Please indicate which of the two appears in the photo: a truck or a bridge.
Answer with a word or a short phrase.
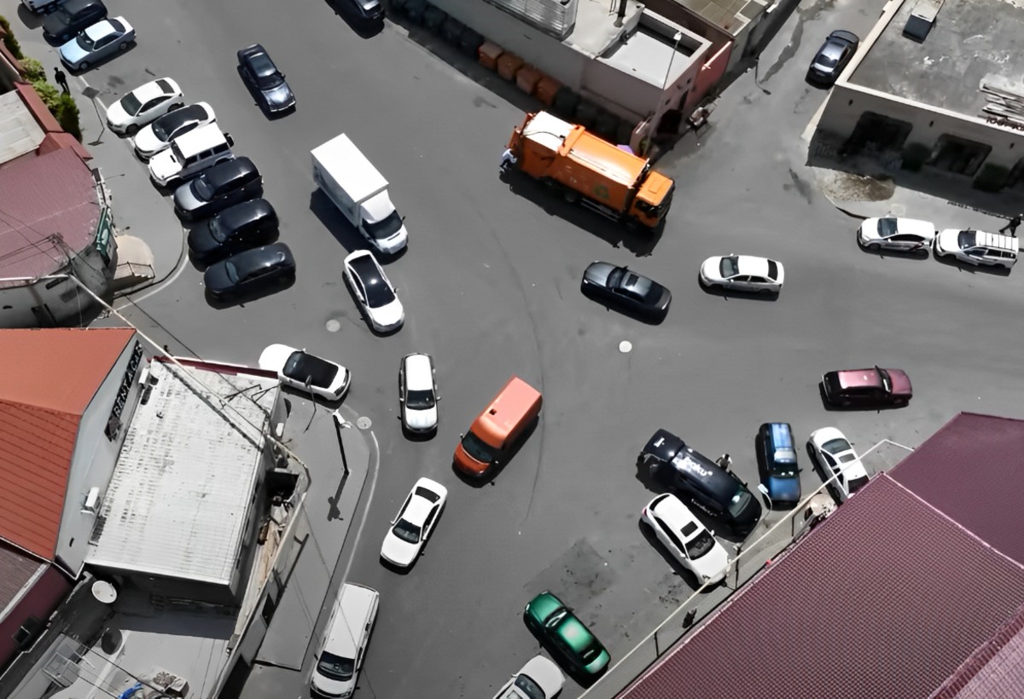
truck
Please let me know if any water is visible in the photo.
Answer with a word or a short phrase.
No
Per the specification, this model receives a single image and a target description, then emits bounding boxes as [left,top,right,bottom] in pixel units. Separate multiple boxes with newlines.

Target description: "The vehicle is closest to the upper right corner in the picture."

[805,29,856,87]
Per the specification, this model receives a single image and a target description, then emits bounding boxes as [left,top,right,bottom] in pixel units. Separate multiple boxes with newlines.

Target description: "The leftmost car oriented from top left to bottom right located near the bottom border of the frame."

[527,593,610,679]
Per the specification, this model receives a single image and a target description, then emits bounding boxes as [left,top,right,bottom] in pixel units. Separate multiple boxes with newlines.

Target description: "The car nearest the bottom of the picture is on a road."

[494,658,565,699]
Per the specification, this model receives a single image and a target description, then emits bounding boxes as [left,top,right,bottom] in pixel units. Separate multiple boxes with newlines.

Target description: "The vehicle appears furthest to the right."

[935,226,1017,271]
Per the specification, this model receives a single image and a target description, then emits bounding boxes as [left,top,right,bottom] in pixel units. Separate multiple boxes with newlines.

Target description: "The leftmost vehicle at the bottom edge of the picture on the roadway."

[315,589,384,695]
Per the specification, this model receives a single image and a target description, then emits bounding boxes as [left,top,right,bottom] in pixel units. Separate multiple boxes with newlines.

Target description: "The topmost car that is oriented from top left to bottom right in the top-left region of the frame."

[236,44,297,116]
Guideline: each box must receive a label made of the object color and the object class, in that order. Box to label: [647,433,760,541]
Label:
black van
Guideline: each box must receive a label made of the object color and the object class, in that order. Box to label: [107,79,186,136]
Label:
white car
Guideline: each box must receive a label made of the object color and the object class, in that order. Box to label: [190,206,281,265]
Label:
black car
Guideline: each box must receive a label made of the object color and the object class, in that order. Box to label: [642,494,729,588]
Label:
white car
